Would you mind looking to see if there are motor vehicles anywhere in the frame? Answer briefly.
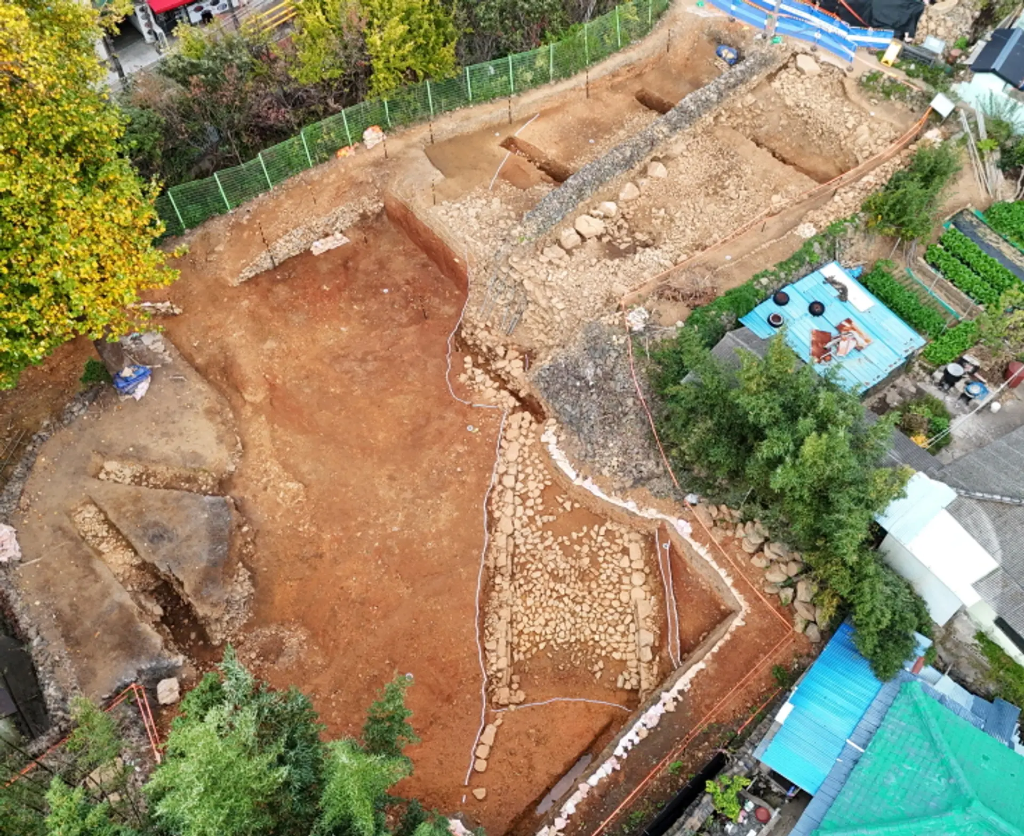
No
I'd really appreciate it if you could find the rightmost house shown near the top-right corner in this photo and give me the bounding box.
[969,22,1024,110]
